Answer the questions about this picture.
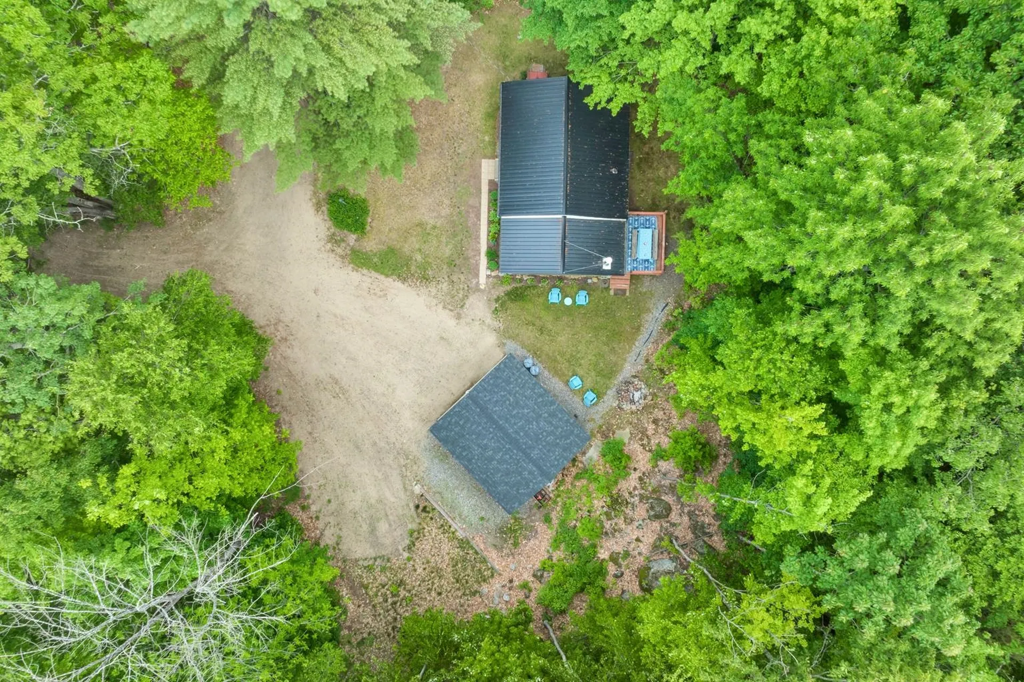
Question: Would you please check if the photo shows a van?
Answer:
No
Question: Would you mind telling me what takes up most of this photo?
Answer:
trees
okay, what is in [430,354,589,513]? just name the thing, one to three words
building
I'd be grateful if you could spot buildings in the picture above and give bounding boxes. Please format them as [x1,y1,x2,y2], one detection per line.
[430,354,589,513]
[495,75,630,281]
